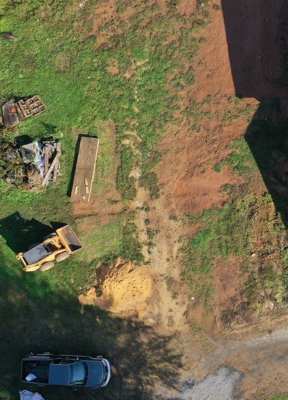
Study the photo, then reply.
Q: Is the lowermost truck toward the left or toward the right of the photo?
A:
left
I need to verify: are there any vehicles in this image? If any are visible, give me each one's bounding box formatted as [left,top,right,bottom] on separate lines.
[24,355,115,395]
[8,224,80,273]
